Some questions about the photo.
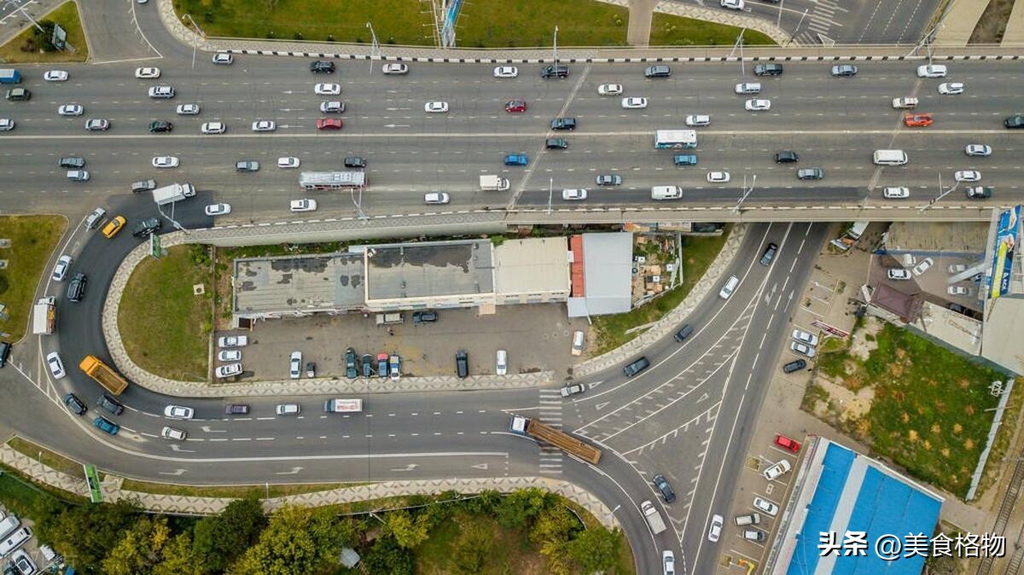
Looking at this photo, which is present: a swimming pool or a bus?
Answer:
bus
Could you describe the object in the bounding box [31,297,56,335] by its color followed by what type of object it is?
white truck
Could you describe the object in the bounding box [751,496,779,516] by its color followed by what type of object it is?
white car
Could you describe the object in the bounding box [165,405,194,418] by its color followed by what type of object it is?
white vehicle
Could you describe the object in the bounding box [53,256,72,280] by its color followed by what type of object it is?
white car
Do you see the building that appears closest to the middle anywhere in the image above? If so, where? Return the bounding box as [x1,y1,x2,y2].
[496,236,570,306]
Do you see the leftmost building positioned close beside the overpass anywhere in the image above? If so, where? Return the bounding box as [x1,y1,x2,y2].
[234,253,374,332]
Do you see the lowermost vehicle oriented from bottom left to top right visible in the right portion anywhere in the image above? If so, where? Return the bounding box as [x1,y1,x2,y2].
[762,459,791,481]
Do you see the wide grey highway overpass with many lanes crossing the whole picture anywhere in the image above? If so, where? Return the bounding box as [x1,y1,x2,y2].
[0,35,1024,245]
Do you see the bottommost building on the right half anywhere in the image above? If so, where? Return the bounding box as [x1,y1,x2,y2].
[756,436,945,575]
